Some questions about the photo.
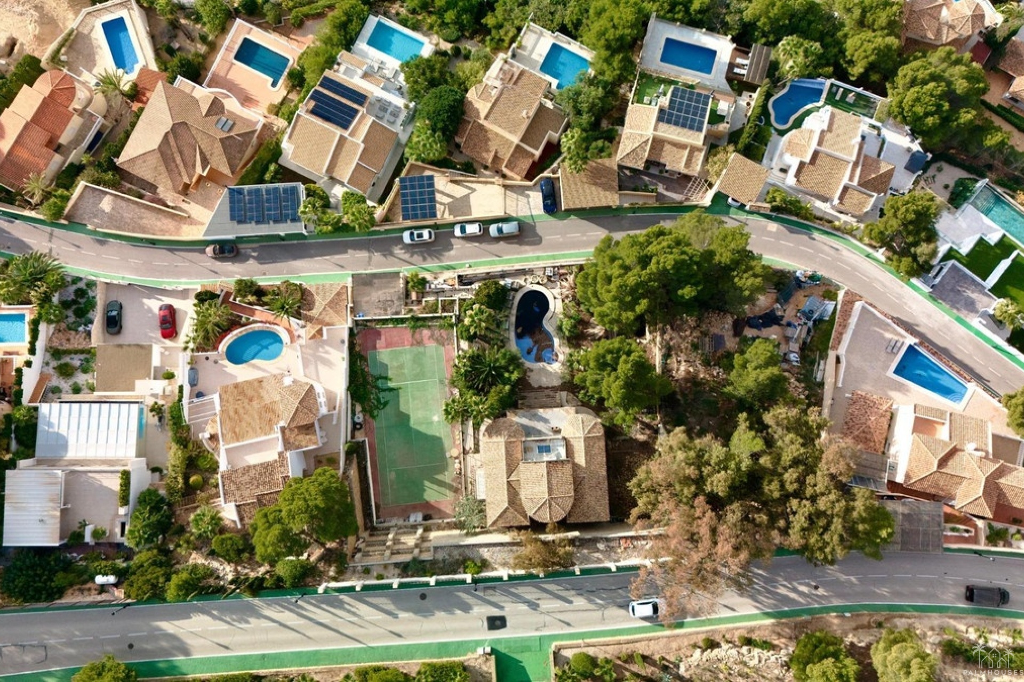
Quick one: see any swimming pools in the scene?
Yes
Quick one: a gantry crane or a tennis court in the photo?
tennis court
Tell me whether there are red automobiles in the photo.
Yes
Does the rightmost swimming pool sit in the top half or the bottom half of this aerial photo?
top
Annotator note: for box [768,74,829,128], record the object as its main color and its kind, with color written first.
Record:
blue swimming pool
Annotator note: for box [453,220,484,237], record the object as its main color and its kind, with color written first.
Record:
white car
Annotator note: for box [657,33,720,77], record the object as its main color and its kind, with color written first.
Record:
blue swimming pool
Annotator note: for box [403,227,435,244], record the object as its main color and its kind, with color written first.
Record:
white car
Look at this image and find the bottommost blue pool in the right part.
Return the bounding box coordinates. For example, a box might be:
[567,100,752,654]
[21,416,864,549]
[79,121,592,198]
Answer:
[887,340,973,410]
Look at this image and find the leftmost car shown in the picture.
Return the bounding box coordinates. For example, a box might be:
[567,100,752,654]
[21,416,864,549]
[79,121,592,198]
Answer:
[105,300,124,335]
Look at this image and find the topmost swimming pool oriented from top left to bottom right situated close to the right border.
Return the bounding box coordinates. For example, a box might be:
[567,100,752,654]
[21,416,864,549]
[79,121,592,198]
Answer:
[969,186,1024,254]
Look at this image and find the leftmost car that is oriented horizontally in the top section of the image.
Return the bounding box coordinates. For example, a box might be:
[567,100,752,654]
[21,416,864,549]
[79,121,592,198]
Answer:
[205,241,239,258]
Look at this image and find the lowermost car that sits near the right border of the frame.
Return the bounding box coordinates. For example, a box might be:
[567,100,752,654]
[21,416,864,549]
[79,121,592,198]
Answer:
[965,586,1005,605]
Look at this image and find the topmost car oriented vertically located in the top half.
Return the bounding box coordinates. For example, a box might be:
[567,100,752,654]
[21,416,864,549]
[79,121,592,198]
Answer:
[540,178,557,214]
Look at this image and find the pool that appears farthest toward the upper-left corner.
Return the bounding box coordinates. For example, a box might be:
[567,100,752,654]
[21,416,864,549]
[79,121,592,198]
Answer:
[97,12,143,79]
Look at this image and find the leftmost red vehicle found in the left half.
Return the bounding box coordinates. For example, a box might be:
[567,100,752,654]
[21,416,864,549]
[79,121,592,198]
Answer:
[158,304,178,339]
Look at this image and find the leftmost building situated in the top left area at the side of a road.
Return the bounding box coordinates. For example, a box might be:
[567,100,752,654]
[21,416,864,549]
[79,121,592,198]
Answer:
[0,69,116,209]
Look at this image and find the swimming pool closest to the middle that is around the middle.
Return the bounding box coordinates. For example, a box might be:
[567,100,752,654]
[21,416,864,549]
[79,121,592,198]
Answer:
[509,285,561,370]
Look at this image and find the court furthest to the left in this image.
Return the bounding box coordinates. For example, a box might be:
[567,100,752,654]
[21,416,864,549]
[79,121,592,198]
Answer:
[368,345,454,507]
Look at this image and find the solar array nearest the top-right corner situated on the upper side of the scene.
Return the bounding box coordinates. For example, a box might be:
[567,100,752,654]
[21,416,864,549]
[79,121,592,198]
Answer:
[658,88,710,131]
